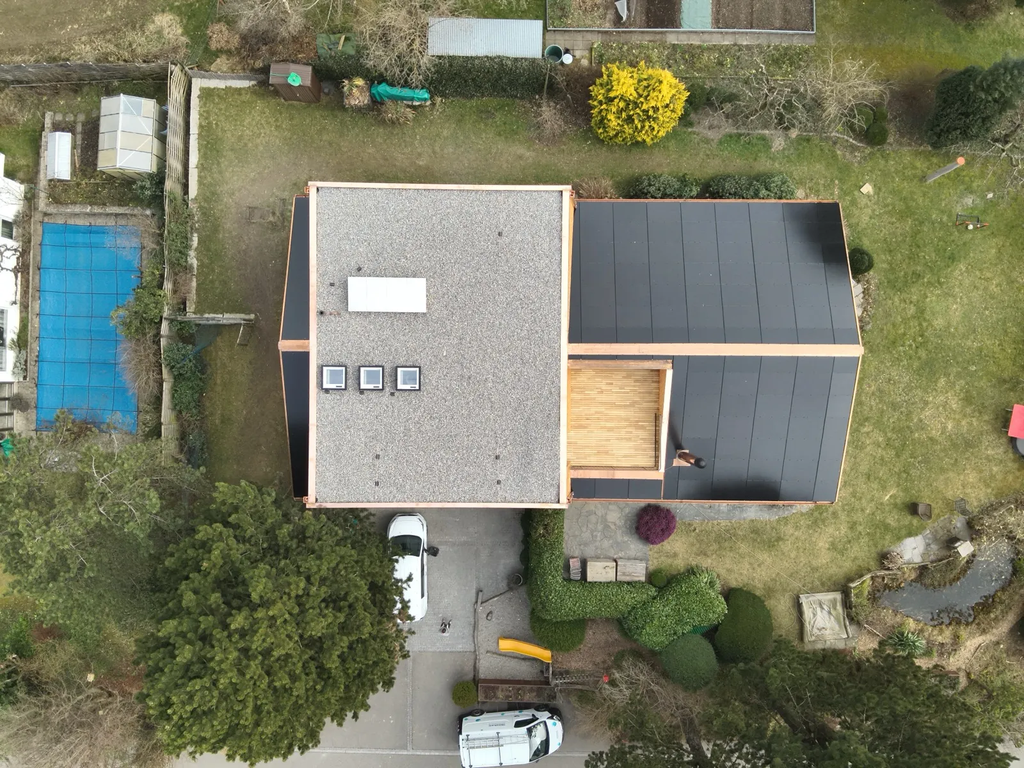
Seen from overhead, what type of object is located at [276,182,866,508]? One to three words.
house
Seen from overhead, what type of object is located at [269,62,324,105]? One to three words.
shed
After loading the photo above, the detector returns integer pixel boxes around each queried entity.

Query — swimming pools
[32,222,145,433]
